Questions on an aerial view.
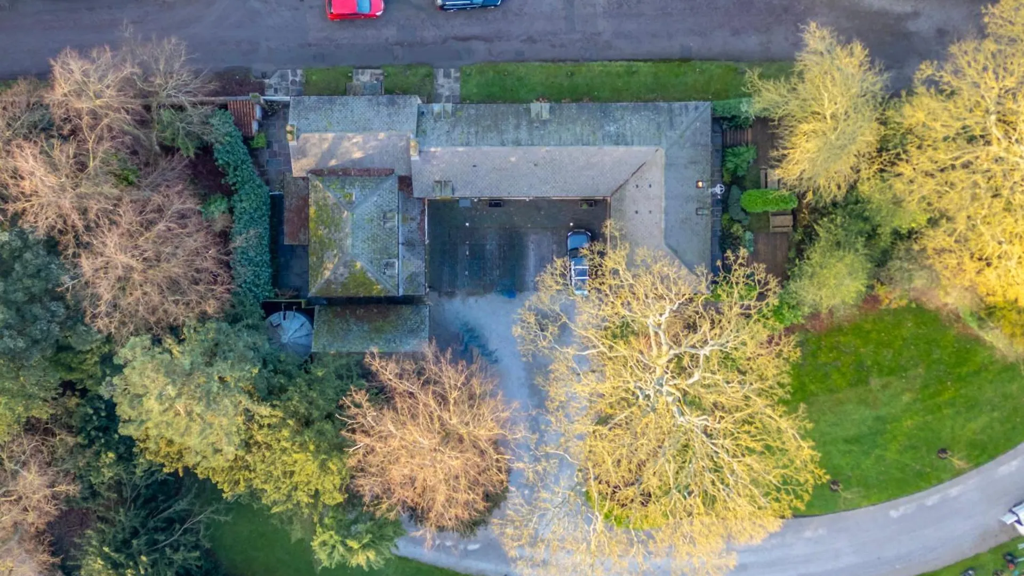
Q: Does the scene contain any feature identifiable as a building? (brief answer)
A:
Yes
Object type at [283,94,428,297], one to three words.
house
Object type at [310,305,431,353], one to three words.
shed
